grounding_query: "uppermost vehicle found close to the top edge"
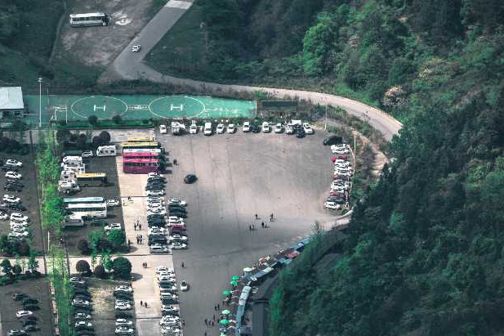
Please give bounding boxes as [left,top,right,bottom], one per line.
[67,13,108,28]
